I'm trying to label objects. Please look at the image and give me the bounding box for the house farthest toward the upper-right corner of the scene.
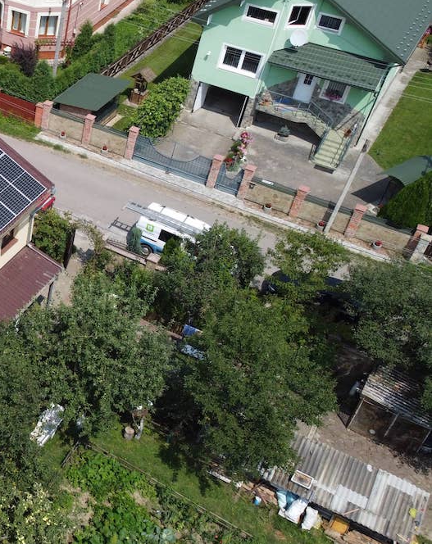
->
[182,0,432,173]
